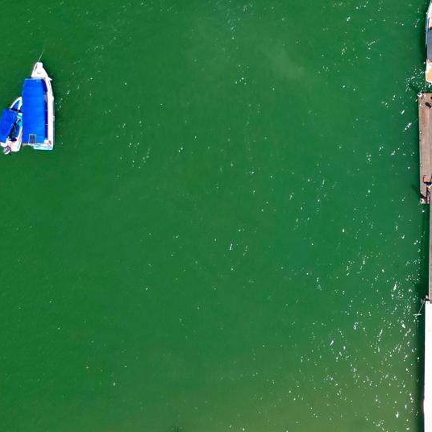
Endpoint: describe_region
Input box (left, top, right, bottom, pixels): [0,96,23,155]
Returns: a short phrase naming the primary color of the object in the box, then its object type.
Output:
blue boat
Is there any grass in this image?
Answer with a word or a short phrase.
No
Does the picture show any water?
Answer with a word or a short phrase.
Yes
